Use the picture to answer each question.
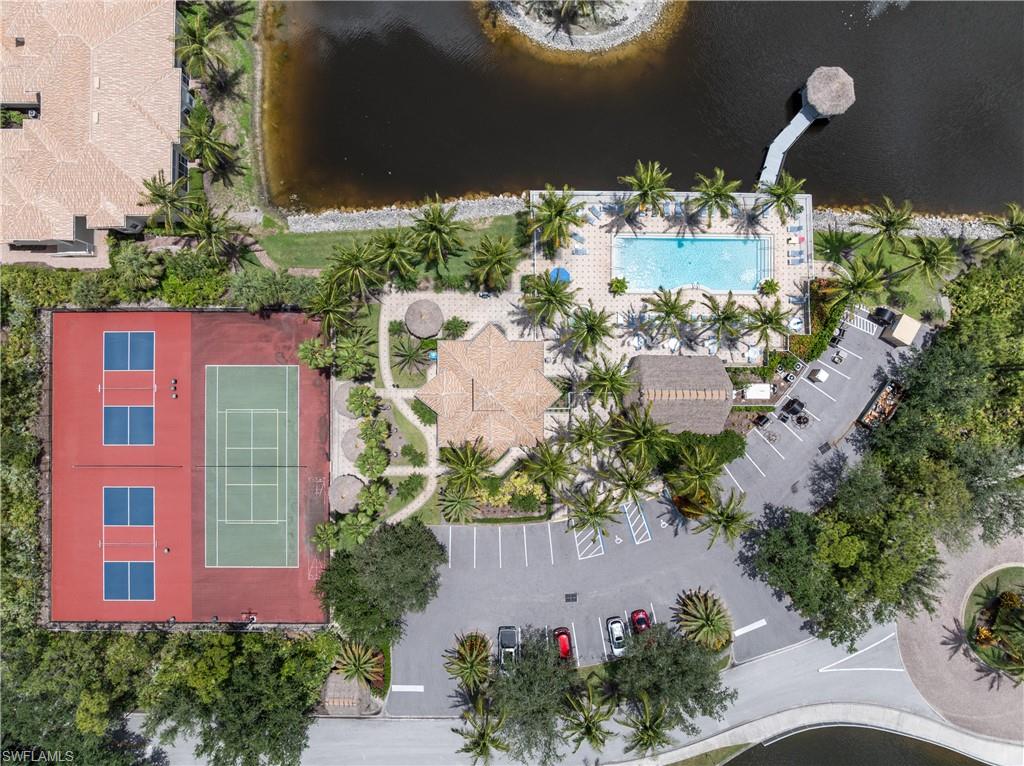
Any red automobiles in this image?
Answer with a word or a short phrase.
Yes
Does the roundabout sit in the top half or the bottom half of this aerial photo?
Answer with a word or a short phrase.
bottom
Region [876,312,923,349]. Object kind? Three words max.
shed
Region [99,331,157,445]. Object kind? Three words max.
sports court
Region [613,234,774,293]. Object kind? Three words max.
swimming pool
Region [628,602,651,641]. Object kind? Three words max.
car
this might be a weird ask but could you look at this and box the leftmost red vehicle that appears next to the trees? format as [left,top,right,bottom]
[553,622,573,662]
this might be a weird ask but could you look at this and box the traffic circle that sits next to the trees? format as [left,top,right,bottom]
[897,504,1024,744]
